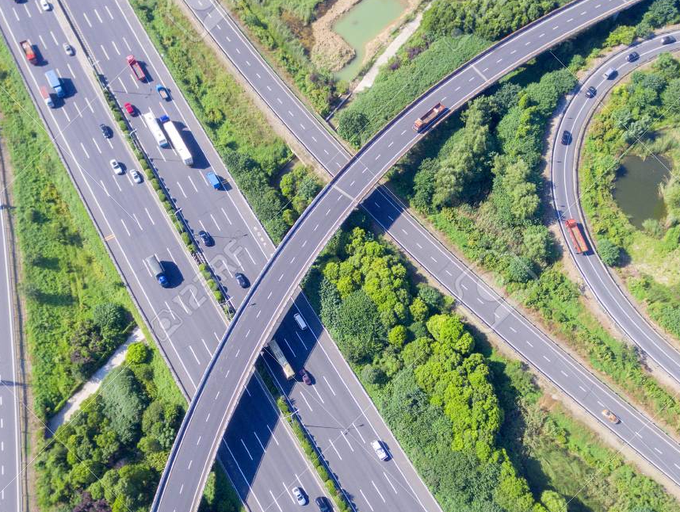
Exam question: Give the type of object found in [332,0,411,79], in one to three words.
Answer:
pond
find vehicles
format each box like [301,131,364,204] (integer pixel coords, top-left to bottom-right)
[43,64,67,99]
[600,407,620,425]
[563,214,589,258]
[199,230,212,246]
[39,86,55,108]
[316,494,333,512]
[372,441,388,462]
[130,168,142,183]
[155,81,171,102]
[63,42,73,55]
[268,333,299,381]
[100,123,112,138]
[292,485,308,506]
[603,68,617,80]
[585,86,598,99]
[126,53,147,82]
[143,111,171,152]
[625,52,640,62]
[18,37,37,64]
[160,115,197,169]
[561,130,571,145]
[39,0,50,11]
[235,272,248,289]
[207,171,221,188]
[293,313,309,332]
[298,366,313,385]
[110,159,122,174]
[124,102,136,116]
[660,35,677,45]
